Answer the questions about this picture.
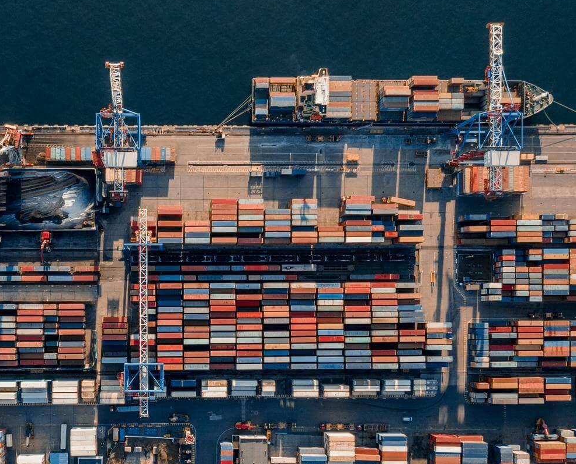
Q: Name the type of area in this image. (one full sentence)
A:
The picture captures a port.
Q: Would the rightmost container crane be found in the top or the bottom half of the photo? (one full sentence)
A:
The top half of the photo is where the rightmost container crane is.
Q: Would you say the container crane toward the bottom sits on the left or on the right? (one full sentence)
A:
It is on the left.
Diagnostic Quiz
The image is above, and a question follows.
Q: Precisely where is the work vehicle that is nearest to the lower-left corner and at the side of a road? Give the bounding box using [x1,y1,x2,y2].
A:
[21,420,34,453]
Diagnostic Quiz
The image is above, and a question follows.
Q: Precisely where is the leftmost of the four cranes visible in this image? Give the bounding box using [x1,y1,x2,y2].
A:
[0,119,42,169]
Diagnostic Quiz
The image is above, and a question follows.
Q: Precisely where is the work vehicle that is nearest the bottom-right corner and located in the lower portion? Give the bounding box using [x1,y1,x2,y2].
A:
[534,417,548,433]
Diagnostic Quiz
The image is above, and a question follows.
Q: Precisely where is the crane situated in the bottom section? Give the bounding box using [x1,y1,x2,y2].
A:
[119,209,171,417]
